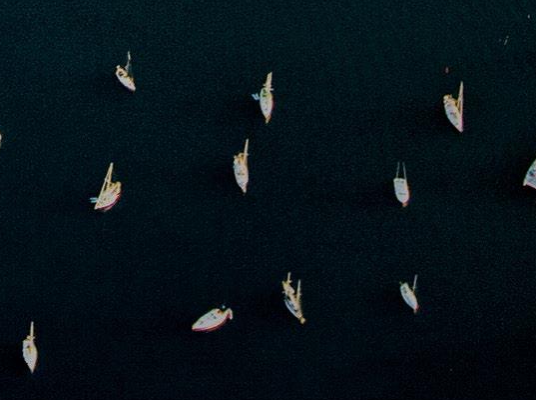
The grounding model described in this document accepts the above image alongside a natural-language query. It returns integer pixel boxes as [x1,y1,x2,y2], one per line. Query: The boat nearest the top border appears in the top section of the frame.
[115,51,135,92]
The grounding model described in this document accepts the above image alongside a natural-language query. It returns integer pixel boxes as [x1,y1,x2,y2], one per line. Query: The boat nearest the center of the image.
[233,138,249,194]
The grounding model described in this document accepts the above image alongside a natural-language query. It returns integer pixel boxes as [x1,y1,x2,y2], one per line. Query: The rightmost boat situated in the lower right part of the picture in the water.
[400,274,417,312]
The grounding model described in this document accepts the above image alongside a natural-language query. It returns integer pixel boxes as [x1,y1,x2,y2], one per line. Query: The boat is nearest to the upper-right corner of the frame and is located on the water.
[443,79,463,133]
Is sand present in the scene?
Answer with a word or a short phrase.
No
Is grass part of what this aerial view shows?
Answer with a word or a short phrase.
No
